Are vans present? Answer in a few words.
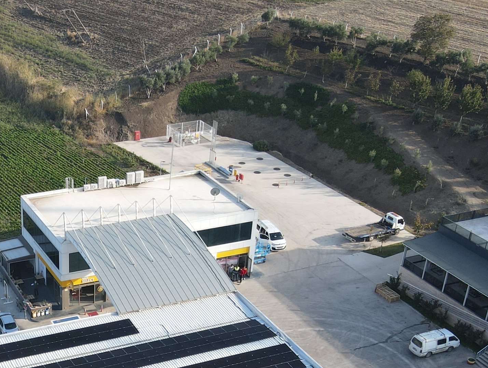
Yes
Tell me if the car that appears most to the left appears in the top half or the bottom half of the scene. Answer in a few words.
bottom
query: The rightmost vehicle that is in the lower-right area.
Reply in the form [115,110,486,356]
[408,328,461,357]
